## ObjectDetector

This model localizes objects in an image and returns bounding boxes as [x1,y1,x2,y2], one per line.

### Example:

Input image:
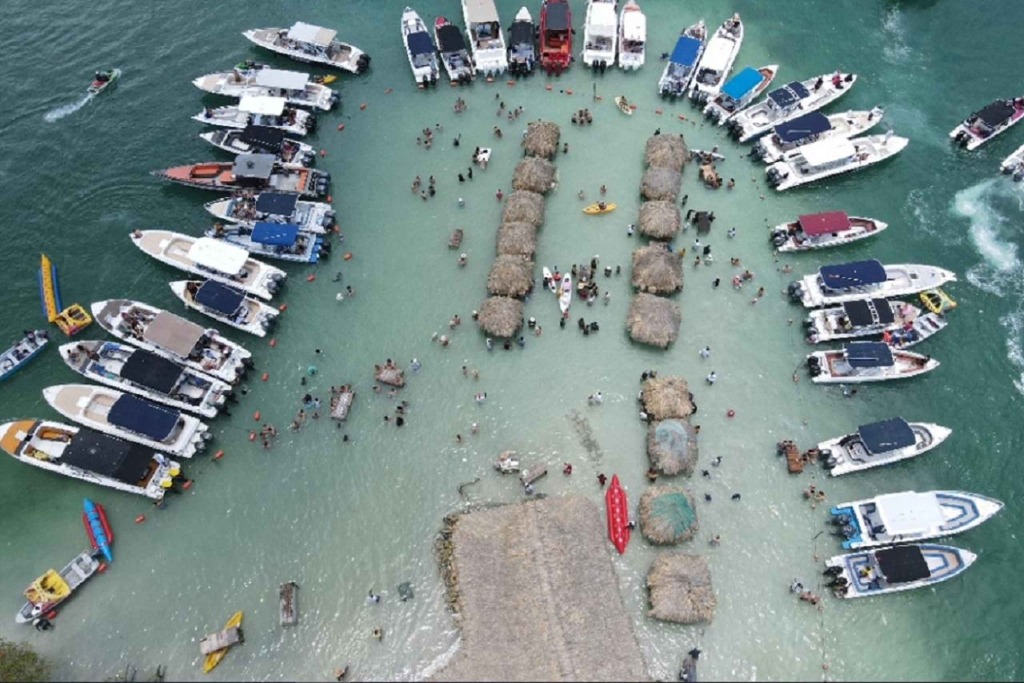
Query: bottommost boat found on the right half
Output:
[817,542,977,606]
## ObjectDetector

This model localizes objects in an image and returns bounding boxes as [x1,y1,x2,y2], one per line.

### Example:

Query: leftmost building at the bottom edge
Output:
[453,493,653,683]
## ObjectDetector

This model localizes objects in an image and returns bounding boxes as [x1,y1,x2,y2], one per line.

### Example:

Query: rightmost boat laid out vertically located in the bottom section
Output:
[605,474,630,552]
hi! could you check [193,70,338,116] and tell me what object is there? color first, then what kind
white boat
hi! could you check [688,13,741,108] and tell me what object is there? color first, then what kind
white boat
